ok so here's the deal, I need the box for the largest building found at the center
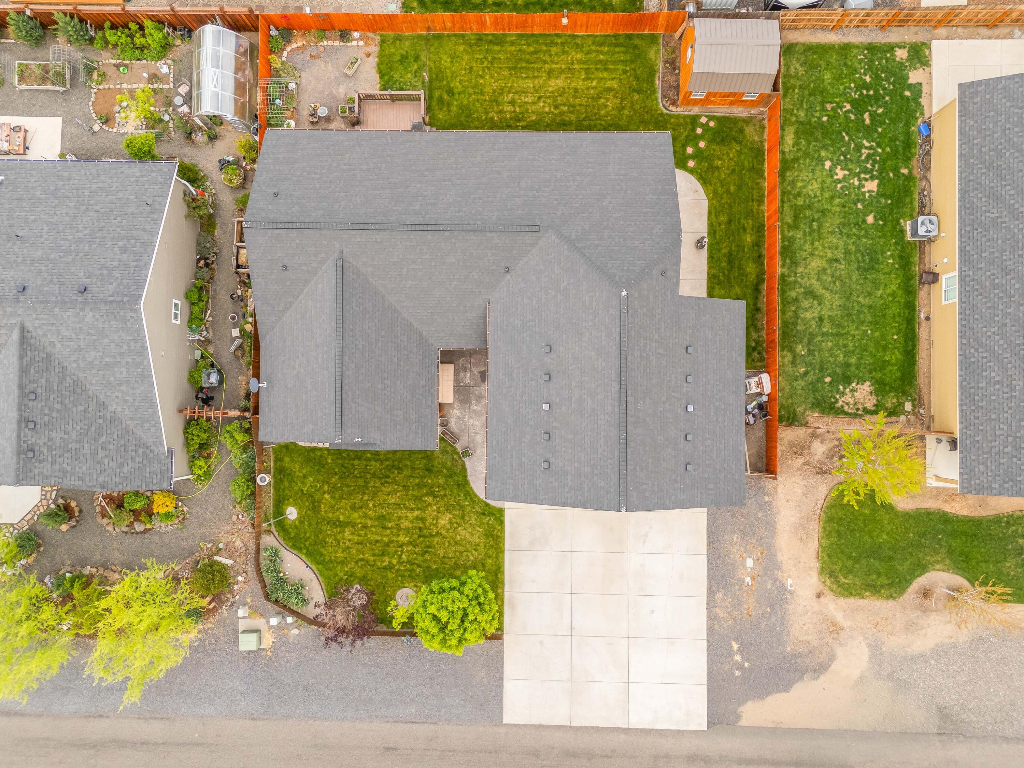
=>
[240,128,746,513]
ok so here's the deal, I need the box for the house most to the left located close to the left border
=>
[0,155,198,491]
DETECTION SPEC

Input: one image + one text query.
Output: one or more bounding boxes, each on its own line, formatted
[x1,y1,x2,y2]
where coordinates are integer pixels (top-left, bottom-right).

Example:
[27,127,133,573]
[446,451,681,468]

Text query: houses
[0,155,198,491]
[240,128,746,513]
[927,74,1024,497]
